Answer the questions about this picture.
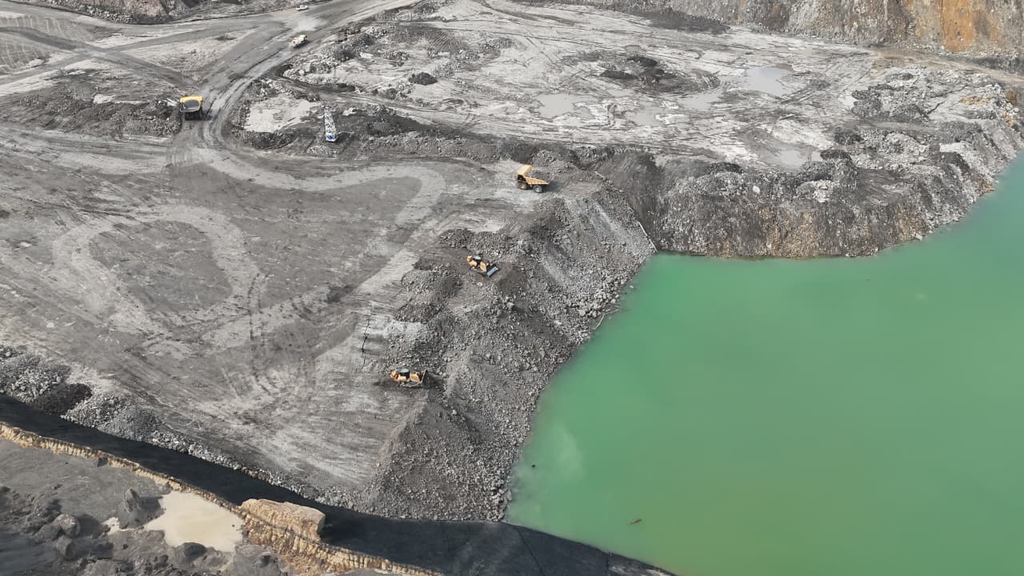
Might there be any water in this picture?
Yes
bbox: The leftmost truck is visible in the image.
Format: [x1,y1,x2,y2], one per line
[177,90,200,121]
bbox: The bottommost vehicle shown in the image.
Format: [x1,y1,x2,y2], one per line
[392,367,432,391]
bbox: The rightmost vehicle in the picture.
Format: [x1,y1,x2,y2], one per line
[515,163,553,193]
